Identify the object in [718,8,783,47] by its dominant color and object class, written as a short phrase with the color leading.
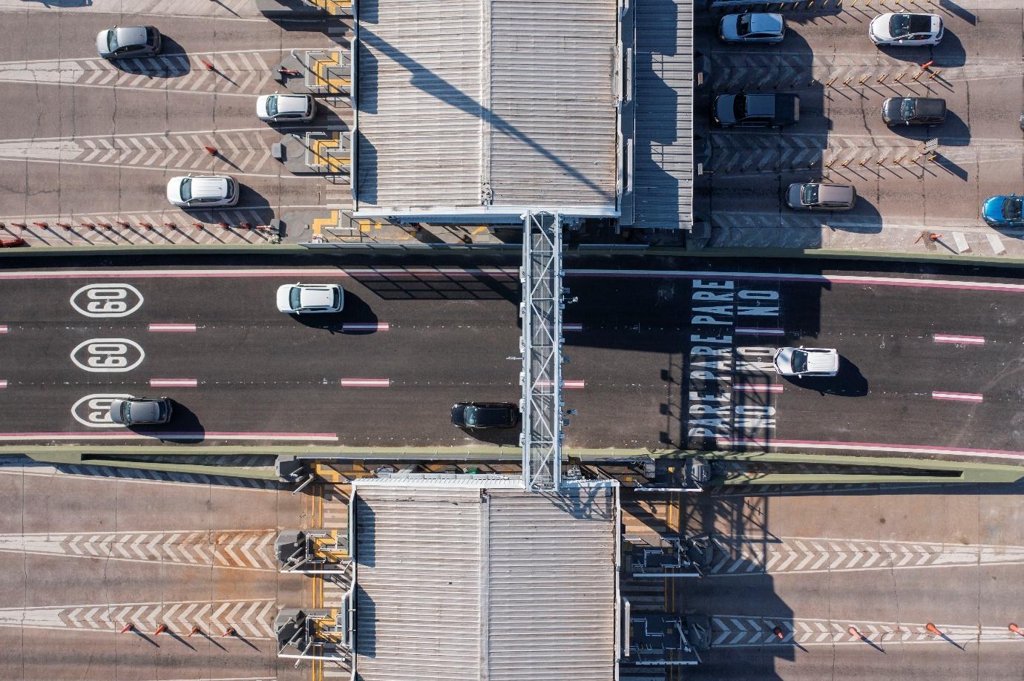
blue car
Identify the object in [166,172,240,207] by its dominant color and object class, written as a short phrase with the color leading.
white car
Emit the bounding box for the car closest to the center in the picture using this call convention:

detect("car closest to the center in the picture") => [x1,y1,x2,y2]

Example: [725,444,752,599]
[451,399,518,433]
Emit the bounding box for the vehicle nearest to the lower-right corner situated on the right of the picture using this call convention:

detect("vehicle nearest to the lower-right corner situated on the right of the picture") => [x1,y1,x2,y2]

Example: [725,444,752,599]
[773,344,838,379]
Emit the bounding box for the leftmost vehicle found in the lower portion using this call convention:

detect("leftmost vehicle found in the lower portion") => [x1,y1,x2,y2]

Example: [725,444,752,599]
[110,395,174,428]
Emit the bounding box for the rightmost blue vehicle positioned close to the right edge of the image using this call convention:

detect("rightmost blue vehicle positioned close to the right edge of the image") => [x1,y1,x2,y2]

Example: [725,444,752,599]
[980,192,1024,227]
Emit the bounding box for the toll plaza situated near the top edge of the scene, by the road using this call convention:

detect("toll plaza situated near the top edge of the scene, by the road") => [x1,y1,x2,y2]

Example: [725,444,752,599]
[350,0,695,235]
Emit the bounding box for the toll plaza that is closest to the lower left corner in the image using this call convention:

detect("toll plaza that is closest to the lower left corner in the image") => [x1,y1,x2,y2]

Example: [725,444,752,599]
[350,462,632,681]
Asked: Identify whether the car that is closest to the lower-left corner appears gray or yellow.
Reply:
gray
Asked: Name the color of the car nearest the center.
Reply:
black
